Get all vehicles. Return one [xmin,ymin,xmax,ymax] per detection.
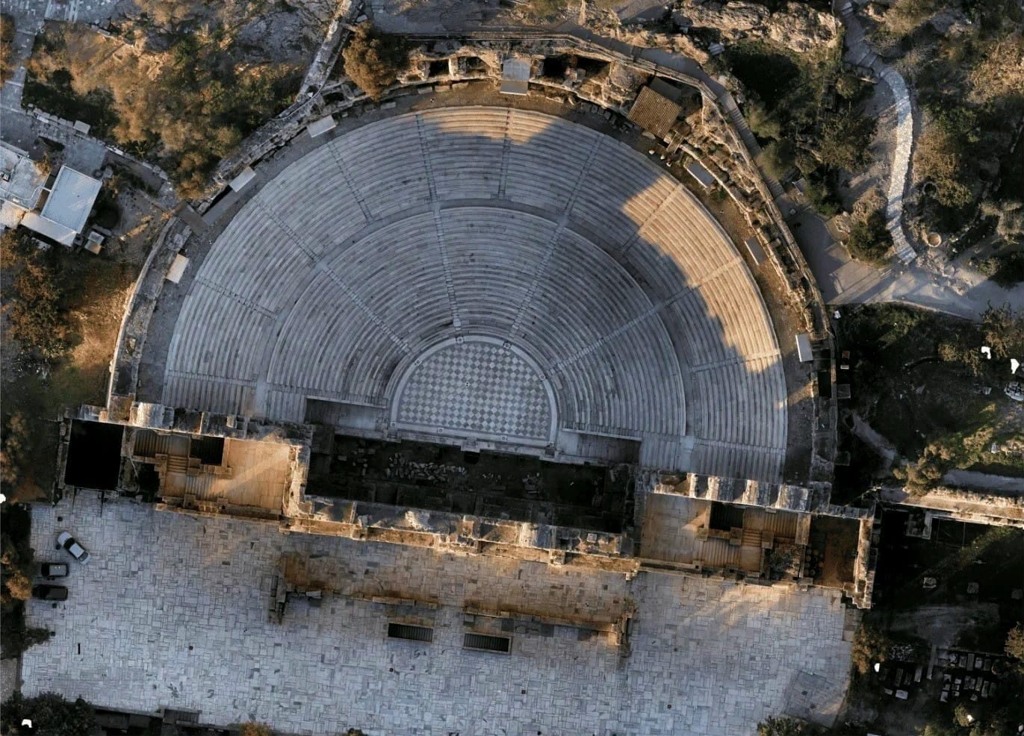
[32,584,70,603]
[57,530,91,564]
[39,562,72,580]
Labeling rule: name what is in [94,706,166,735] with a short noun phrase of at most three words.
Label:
shed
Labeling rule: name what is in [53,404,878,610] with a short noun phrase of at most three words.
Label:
building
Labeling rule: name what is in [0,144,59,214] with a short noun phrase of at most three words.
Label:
house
